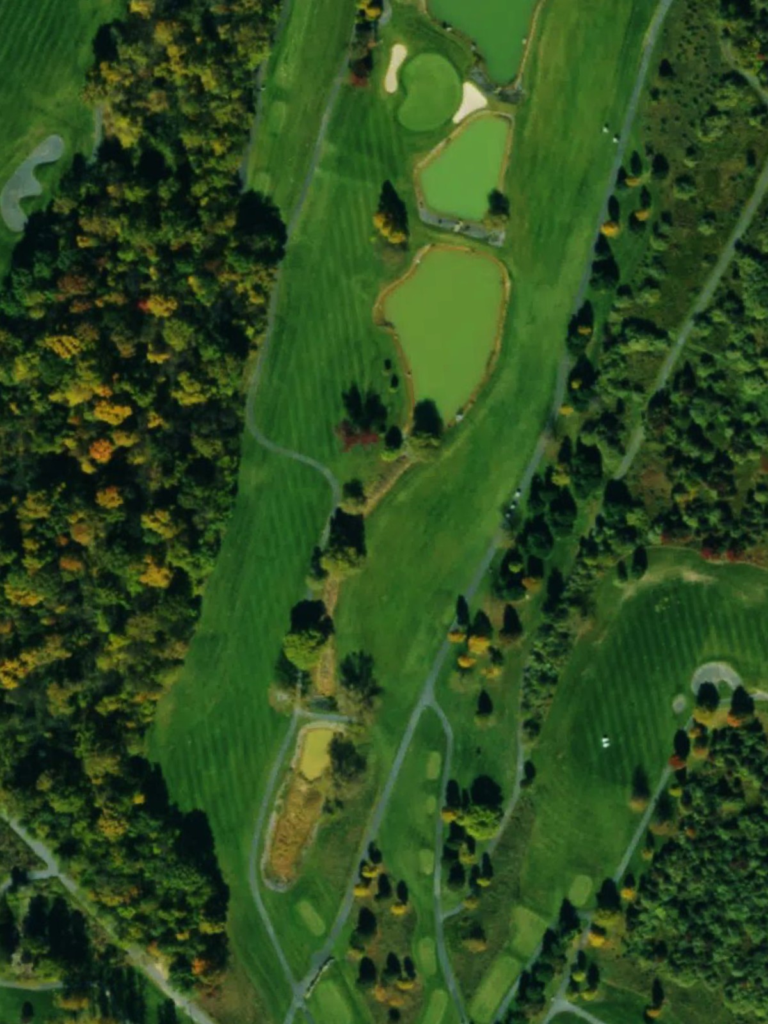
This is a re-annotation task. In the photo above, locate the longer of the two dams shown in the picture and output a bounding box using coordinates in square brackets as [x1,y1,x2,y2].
[415,208,507,248]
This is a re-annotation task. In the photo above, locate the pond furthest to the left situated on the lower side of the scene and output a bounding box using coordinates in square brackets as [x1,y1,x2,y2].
[294,722,344,785]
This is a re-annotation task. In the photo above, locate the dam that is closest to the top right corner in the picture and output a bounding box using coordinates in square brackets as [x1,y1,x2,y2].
[471,65,525,103]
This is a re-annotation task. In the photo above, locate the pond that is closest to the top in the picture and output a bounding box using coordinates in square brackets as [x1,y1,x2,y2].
[422,0,545,89]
